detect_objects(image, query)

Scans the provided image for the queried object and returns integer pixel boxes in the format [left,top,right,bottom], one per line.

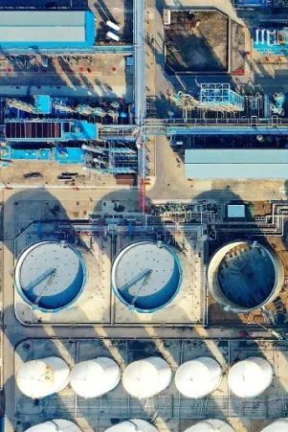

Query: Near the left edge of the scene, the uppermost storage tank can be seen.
[13,238,98,312]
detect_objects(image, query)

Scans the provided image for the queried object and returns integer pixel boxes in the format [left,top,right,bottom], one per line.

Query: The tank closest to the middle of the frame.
[109,238,193,313]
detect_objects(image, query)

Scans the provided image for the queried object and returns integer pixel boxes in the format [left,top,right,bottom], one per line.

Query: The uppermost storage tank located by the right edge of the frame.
[207,237,288,316]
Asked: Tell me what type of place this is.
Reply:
industrial area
